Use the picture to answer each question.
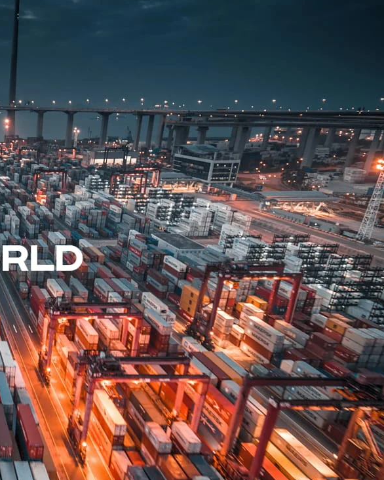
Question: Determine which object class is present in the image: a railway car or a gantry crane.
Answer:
gantry crane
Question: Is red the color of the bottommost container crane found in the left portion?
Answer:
Yes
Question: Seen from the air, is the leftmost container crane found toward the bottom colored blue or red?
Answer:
red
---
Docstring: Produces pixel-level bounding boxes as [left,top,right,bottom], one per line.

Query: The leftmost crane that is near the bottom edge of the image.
[68,347,219,468]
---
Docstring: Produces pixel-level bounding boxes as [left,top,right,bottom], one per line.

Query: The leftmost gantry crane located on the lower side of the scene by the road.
[34,286,140,377]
